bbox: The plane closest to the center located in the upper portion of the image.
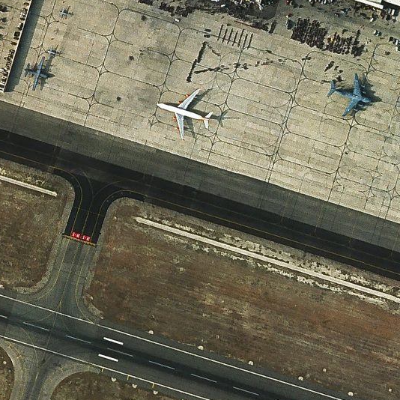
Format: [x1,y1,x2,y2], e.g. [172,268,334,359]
[157,89,211,138]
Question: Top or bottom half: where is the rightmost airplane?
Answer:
top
